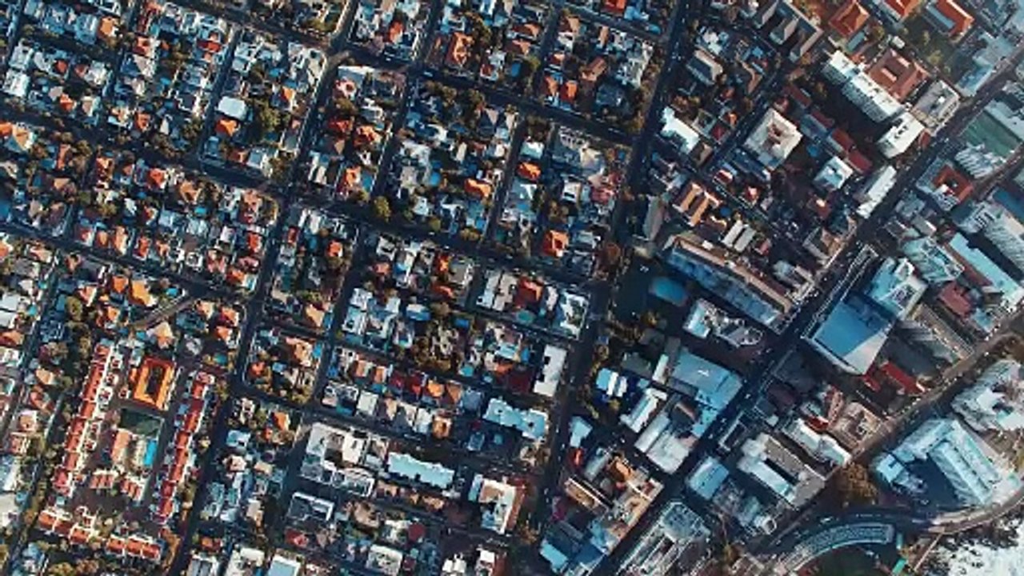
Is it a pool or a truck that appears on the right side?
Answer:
pool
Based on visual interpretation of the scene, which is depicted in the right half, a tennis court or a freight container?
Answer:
tennis court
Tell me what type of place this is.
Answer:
residential area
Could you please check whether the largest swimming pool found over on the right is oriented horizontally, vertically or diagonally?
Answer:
diagonally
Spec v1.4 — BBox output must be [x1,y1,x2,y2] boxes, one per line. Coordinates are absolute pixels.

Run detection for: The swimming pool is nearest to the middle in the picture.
[515,309,534,322]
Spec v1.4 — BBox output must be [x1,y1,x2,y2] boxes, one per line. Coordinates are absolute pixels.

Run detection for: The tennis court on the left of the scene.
[119,401,164,434]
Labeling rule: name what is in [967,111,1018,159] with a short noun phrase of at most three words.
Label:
tennis court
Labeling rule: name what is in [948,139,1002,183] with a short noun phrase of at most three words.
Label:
building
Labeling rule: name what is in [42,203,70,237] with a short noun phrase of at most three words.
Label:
house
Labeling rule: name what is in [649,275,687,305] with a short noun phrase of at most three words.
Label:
swimming pool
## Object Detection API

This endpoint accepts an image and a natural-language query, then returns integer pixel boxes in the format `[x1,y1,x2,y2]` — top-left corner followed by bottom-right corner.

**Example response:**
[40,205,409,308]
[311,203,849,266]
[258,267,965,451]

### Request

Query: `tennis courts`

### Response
[119,401,164,434]
[967,111,1018,159]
